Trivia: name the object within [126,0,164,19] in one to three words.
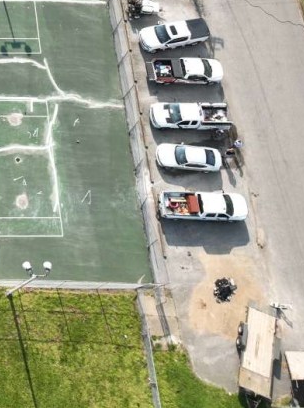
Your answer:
work vehicle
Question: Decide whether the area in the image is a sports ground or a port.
sports ground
